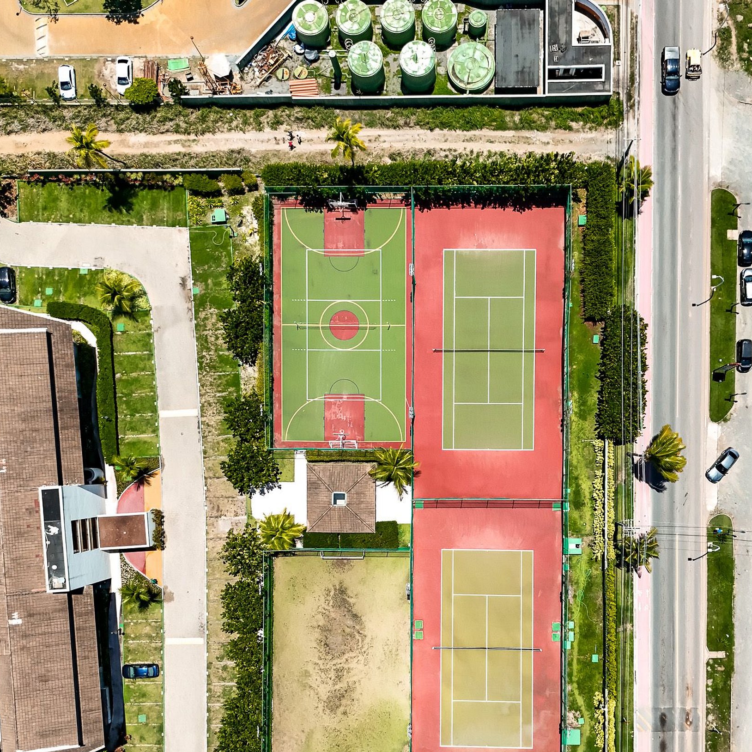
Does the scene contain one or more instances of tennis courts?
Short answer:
Yes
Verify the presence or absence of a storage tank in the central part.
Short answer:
No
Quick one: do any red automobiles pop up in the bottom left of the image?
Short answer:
No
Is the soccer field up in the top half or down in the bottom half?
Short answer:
bottom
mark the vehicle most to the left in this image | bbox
[0,266,16,304]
